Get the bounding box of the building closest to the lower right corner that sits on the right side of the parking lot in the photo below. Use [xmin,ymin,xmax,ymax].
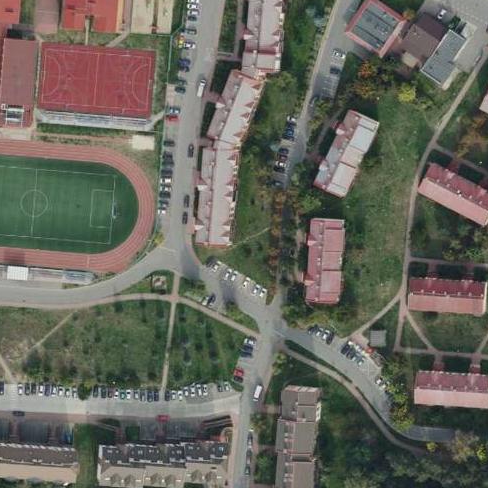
[414,370,488,410]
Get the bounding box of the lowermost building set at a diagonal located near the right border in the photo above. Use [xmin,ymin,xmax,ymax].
[418,163,488,226]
